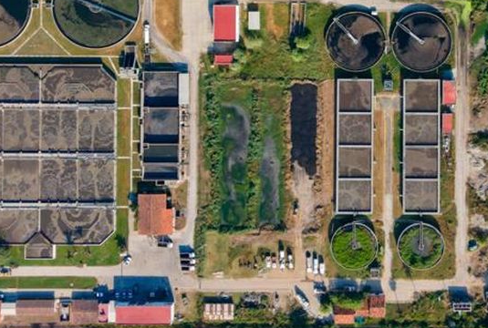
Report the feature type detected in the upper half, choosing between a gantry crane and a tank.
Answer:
tank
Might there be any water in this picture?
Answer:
Yes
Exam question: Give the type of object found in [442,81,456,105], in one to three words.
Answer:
shed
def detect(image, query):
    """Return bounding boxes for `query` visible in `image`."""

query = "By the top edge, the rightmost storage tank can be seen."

[392,12,452,72]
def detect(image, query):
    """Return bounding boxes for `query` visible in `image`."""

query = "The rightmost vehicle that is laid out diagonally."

[297,293,314,311]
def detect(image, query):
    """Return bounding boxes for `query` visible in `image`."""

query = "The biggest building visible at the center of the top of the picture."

[214,5,239,40]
